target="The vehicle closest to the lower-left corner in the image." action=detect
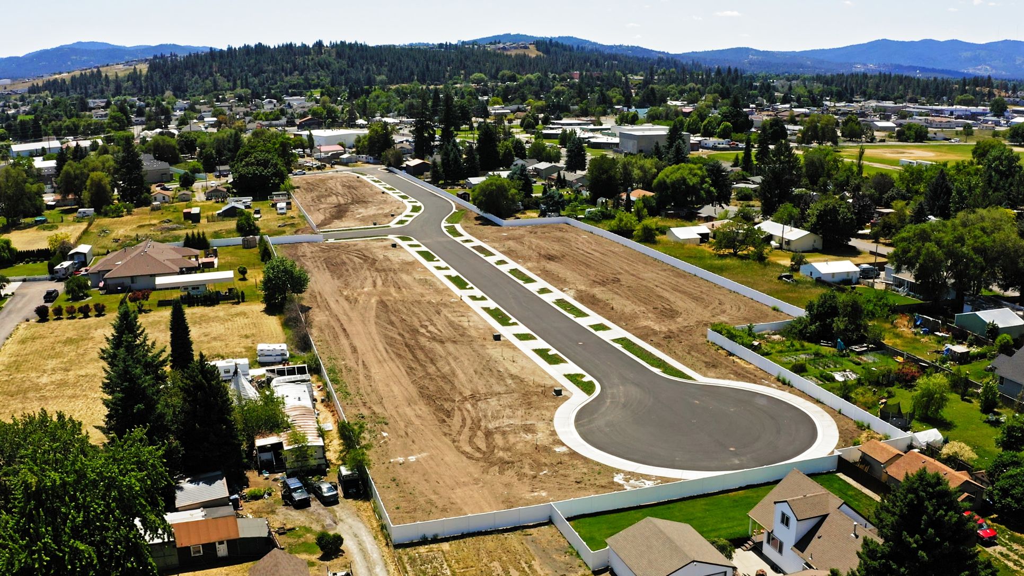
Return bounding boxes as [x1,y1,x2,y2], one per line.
[41,290,60,302]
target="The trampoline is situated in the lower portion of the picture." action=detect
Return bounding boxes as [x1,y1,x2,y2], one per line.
[878,399,918,429]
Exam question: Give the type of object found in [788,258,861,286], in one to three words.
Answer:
building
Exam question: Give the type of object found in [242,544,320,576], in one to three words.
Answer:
shed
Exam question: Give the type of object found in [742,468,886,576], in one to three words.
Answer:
house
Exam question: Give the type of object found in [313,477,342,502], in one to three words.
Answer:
car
